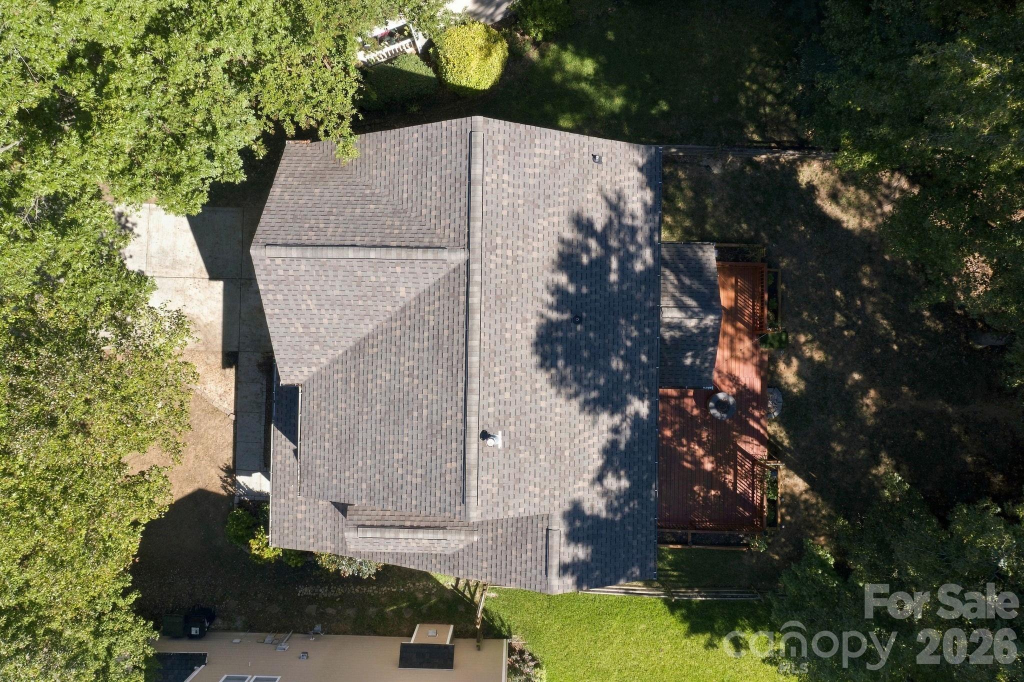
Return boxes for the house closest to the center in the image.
[253,116,727,598]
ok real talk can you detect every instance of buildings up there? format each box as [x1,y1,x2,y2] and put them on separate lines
[253,116,727,598]
[70,623,505,682]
